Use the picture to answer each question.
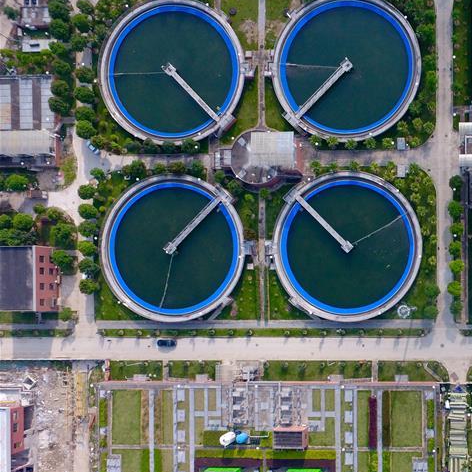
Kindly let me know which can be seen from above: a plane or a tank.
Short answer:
tank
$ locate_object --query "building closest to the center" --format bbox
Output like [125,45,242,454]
[214,131,303,192]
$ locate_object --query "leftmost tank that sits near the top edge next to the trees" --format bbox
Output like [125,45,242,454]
[98,0,256,145]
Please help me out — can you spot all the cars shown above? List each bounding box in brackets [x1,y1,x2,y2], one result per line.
[158,338,177,346]
[84,139,102,156]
